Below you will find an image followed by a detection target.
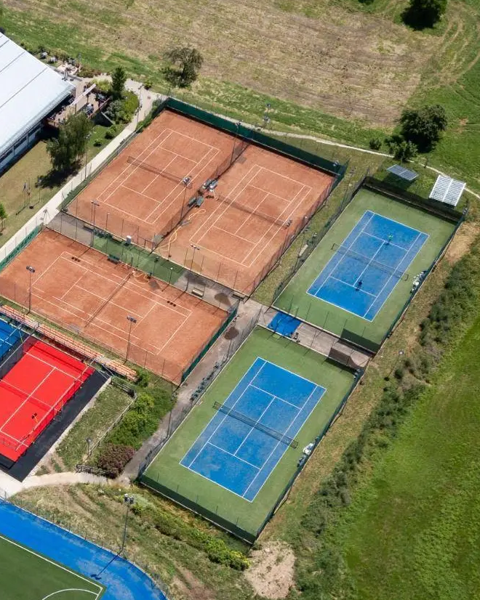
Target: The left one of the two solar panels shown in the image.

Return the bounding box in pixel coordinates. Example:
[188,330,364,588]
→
[388,165,419,182]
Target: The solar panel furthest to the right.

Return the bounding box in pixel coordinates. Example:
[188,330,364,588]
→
[432,176,465,201]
